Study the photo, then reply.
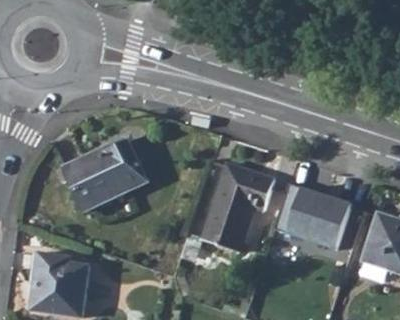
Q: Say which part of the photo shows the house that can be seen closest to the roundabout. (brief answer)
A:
left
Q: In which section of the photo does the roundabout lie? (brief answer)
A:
top left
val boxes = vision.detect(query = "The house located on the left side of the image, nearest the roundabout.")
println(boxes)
[62,142,149,212]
